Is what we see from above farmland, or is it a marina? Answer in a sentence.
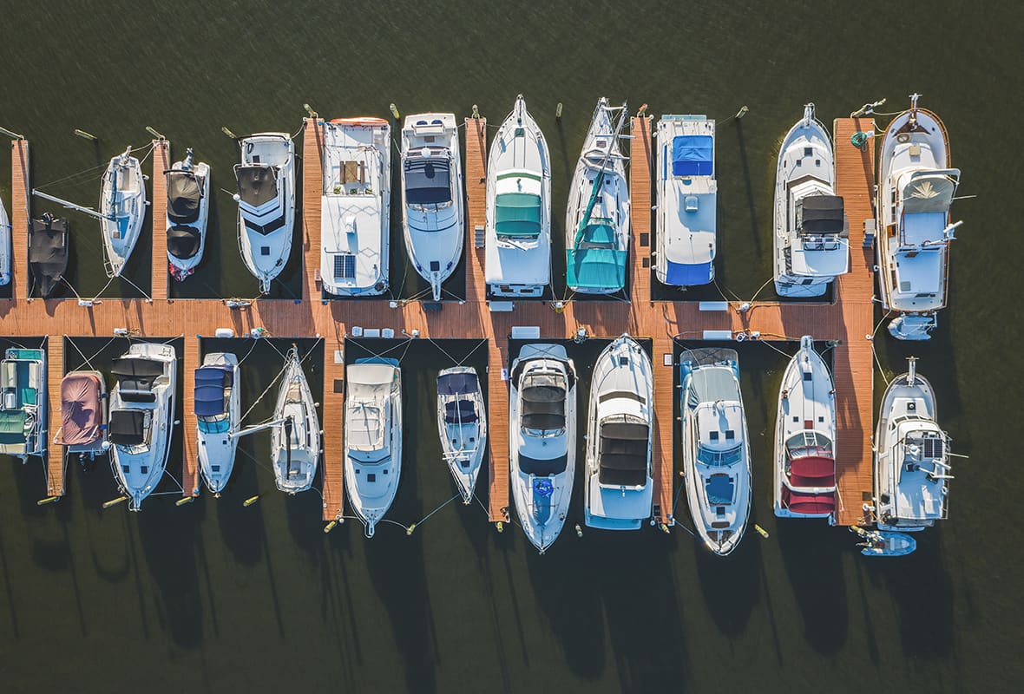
What you see here is a marina.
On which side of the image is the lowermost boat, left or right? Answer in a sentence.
You can find the lowermost boat on the right side of the picture.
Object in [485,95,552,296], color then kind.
white boat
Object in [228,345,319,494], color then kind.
white boat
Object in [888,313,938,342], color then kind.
blue boat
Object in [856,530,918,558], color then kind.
blue boat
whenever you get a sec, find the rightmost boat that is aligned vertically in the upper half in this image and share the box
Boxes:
[875,93,976,312]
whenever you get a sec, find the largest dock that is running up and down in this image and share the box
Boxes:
[833,118,875,526]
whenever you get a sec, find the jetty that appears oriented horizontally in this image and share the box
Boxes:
[0,298,835,340]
